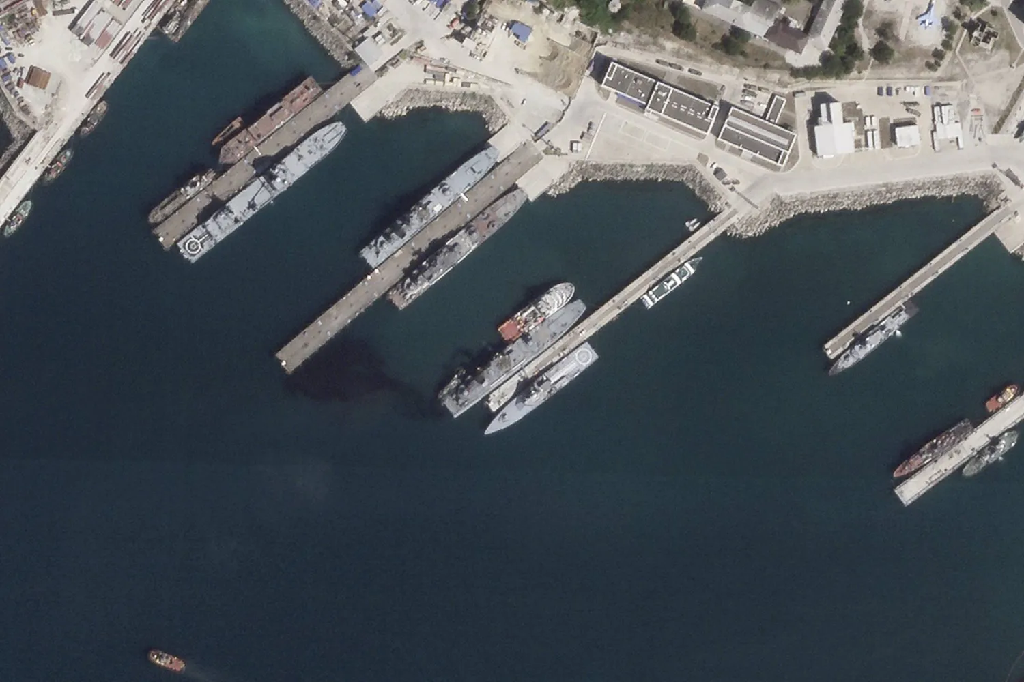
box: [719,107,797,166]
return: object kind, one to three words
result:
building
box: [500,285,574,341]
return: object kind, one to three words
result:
ship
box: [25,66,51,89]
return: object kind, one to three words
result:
shed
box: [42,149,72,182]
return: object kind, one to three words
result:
boat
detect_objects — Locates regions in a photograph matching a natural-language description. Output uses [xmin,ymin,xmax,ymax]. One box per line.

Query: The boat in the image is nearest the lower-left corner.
[148,651,185,673]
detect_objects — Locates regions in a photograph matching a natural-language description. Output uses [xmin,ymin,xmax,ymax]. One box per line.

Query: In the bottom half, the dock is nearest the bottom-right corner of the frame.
[895,393,1024,506]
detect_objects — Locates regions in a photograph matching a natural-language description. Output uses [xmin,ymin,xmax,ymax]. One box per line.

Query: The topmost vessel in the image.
[157,0,208,40]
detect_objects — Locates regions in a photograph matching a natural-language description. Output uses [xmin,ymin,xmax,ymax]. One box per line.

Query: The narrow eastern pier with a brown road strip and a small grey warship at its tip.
[824,205,1017,359]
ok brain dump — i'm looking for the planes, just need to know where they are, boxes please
[918,1,938,30]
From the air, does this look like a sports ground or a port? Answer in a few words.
port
